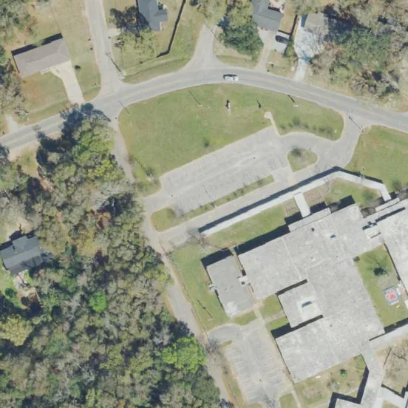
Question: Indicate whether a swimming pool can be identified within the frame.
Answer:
No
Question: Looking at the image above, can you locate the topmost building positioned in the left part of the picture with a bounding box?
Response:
[138,0,166,30]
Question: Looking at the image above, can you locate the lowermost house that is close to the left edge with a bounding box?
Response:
[0,236,44,275]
